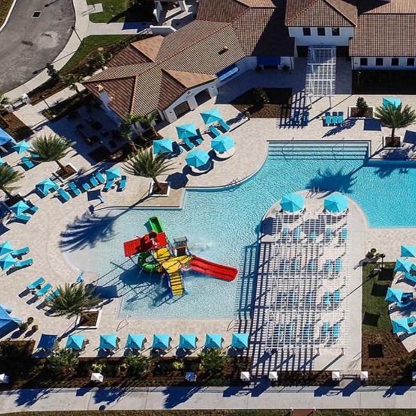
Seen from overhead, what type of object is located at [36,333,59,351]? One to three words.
umbrella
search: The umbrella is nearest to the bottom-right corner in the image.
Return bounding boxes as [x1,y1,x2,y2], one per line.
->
[393,316,413,336]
